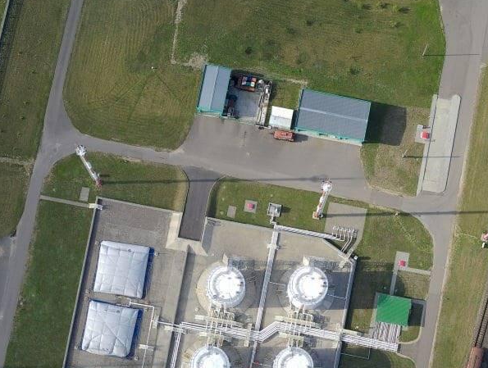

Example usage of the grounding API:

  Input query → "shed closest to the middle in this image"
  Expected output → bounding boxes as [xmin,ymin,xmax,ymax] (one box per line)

[270,107,293,130]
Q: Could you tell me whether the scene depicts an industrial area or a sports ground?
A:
industrial area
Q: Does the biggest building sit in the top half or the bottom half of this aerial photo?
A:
top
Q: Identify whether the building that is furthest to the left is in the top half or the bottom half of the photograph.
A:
top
